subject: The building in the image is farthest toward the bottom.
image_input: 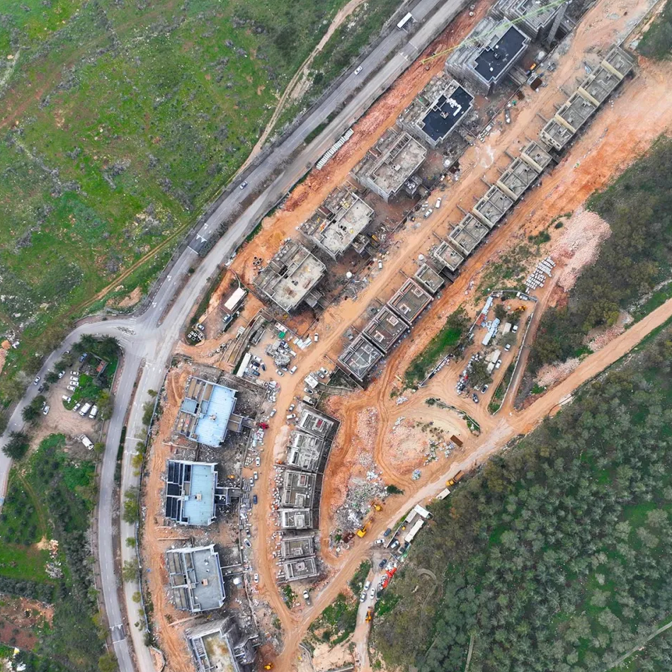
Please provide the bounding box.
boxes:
[192,622,248,672]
